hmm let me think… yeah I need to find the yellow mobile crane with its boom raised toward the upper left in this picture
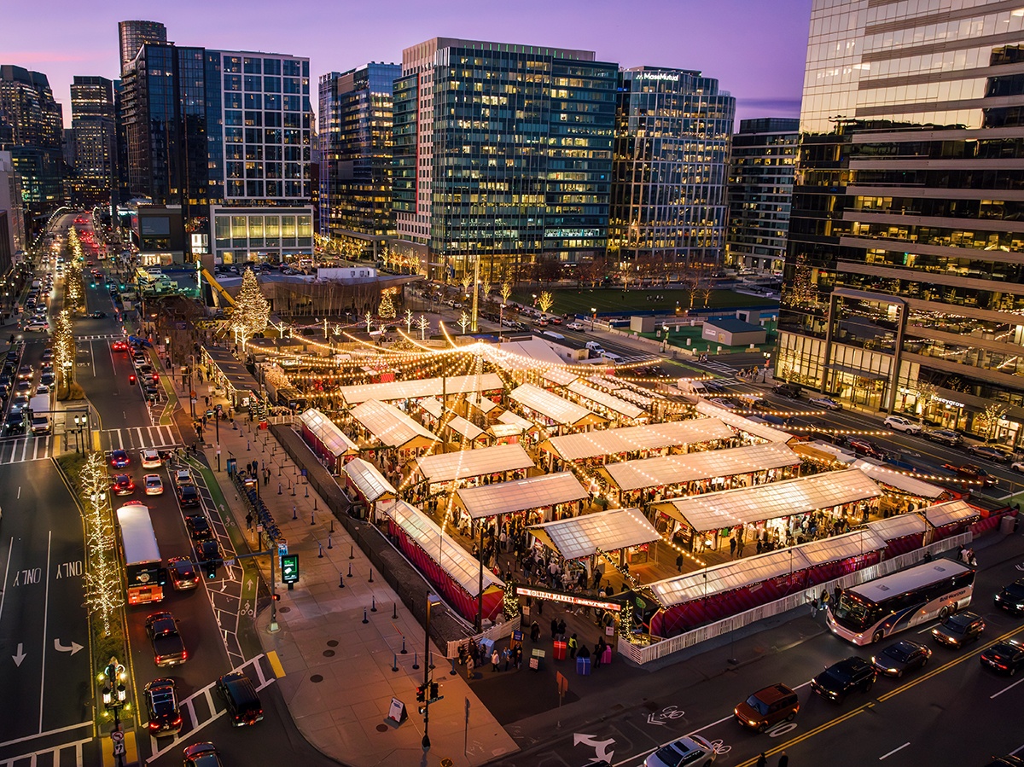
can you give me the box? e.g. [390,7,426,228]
[188,269,229,314]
